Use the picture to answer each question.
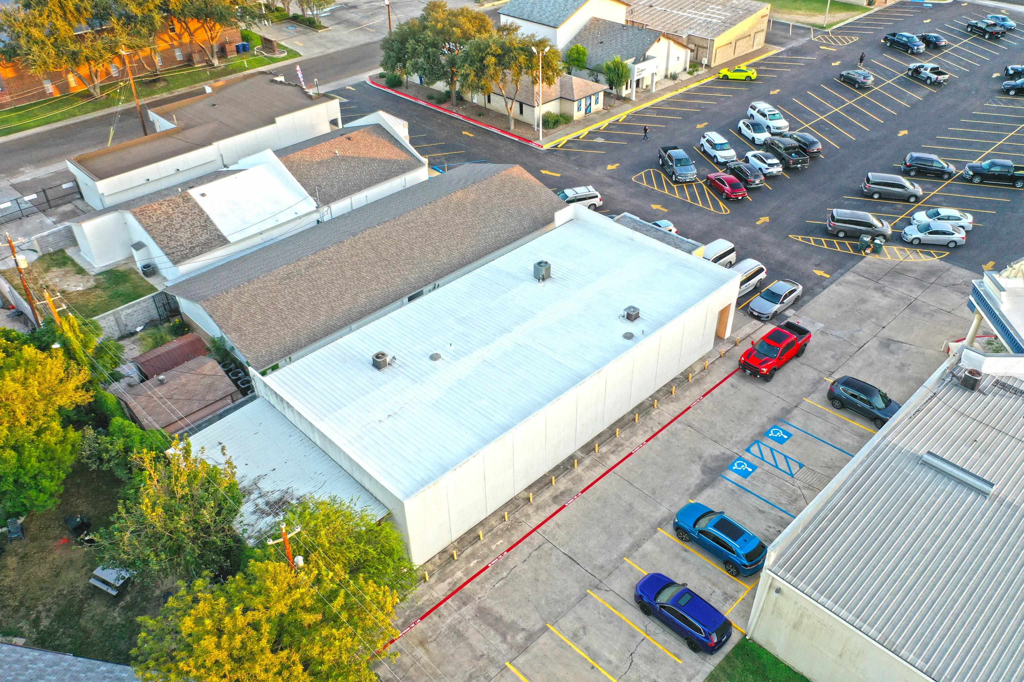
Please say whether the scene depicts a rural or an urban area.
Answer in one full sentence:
The area is urban.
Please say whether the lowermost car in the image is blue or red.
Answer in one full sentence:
The color of the lowermost car is blue.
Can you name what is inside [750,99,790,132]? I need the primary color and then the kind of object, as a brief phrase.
white car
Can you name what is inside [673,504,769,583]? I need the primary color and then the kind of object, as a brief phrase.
blue car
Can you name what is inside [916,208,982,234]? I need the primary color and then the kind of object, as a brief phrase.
white car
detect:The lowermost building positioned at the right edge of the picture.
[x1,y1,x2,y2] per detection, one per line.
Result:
[744,342,1024,682]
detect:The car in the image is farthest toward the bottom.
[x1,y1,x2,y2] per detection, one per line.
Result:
[635,575,734,660]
